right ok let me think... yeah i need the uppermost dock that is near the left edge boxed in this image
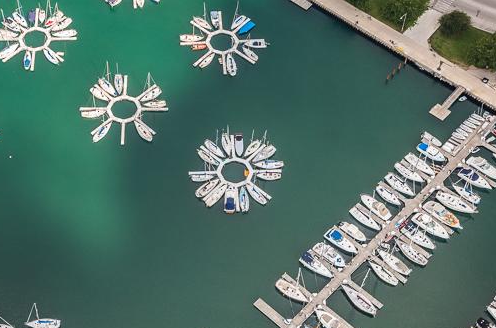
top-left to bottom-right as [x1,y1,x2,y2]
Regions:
[0,8,78,72]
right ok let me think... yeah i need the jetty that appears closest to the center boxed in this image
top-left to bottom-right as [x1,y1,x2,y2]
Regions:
[189,135,282,212]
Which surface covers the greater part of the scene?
water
